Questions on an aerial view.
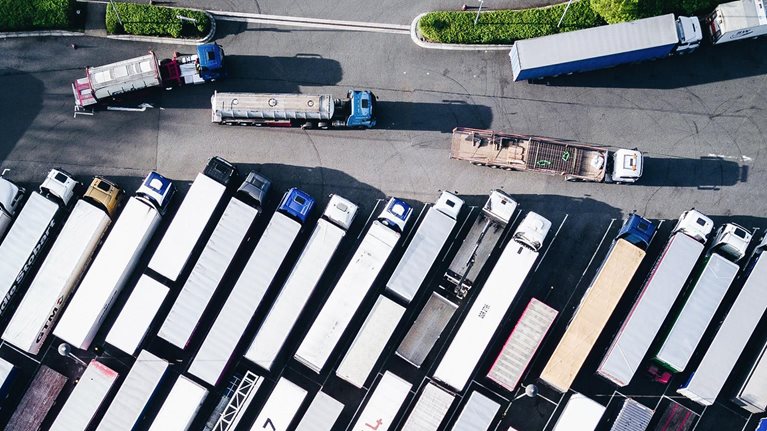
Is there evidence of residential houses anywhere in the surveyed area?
No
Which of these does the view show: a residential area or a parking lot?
parking lot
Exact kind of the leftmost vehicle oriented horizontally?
truck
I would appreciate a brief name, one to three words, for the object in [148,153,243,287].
truck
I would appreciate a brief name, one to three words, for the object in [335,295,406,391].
trailer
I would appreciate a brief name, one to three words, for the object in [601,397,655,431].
trailer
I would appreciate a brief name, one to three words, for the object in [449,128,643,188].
truck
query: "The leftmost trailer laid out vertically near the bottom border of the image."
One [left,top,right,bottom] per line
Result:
[0,358,24,415]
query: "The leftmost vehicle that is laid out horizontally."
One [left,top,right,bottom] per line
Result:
[72,38,239,118]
